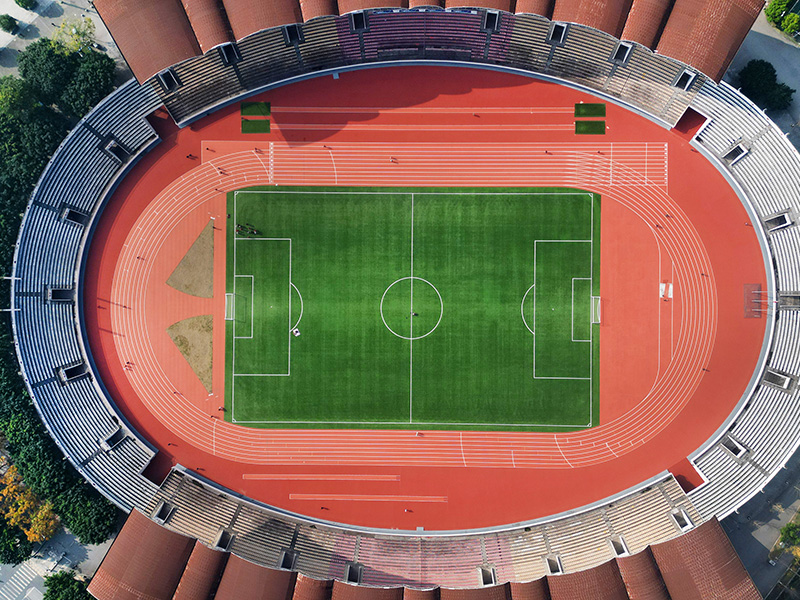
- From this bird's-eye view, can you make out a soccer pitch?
Yes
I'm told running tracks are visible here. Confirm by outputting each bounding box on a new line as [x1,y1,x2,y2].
[66,66,800,530]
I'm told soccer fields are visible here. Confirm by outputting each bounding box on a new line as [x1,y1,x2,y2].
[225,185,601,433]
